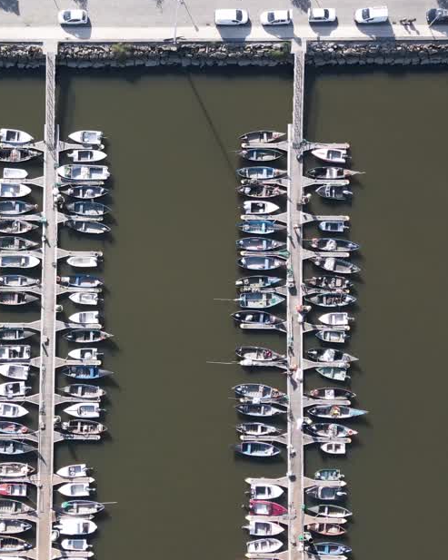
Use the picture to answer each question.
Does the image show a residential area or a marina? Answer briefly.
marina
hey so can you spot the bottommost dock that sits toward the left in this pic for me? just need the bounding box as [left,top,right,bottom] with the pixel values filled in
[0,125,104,560]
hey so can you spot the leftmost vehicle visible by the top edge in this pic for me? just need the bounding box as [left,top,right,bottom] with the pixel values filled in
[59,9,90,26]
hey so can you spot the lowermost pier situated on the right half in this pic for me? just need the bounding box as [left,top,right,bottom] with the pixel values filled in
[239,125,350,560]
